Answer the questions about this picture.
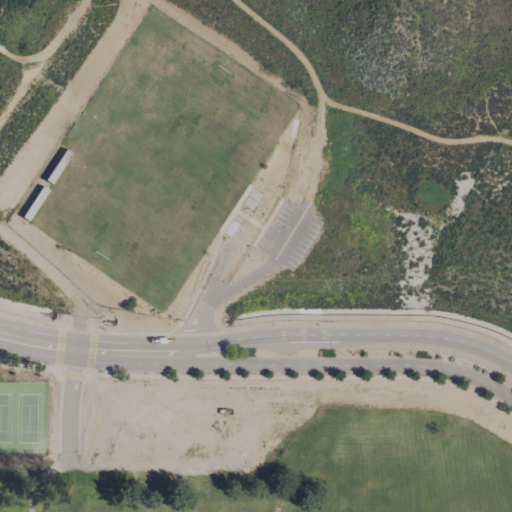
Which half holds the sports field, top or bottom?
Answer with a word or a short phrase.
top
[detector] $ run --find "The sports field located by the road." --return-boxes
[32,7,300,312]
